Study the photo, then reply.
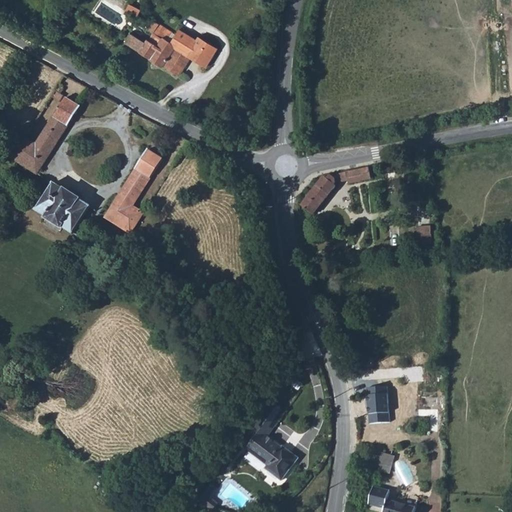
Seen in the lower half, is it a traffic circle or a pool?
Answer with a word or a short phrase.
pool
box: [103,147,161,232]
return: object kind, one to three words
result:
shed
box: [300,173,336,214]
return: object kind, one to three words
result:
house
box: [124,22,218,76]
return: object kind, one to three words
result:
house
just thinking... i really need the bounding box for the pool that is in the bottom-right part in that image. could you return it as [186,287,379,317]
[392,457,418,488]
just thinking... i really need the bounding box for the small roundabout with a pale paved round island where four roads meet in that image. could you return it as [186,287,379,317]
[262,136,313,208]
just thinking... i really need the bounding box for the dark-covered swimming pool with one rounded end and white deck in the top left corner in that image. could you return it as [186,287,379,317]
[92,0,126,30]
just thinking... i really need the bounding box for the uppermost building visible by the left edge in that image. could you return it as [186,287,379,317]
[14,90,79,174]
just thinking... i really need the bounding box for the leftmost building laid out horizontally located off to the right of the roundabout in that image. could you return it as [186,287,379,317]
[340,166,372,184]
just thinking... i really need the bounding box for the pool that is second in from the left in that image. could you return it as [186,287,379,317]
[218,478,252,510]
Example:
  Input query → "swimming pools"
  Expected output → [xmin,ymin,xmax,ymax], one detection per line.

[392,457,418,488]
[218,478,252,510]
[92,0,126,30]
